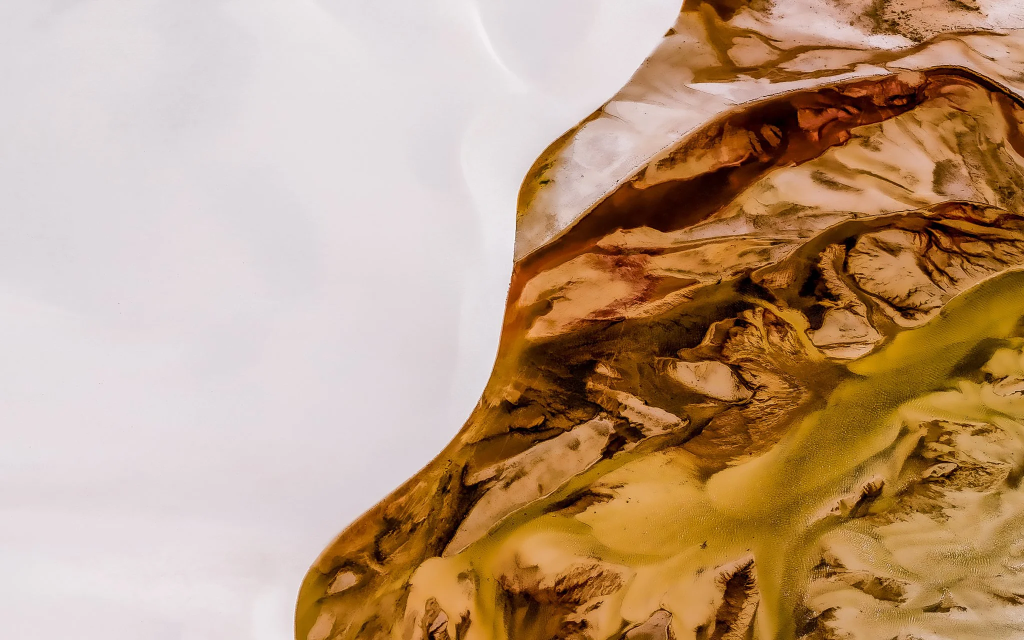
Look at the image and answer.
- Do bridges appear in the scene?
No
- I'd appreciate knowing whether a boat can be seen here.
No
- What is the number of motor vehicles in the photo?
none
